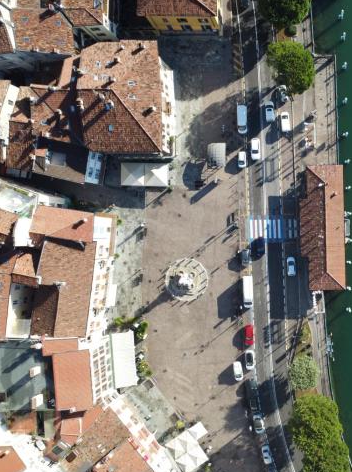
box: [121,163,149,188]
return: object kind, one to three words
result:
tent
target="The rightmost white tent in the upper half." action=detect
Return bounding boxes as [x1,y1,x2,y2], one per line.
[146,163,173,189]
